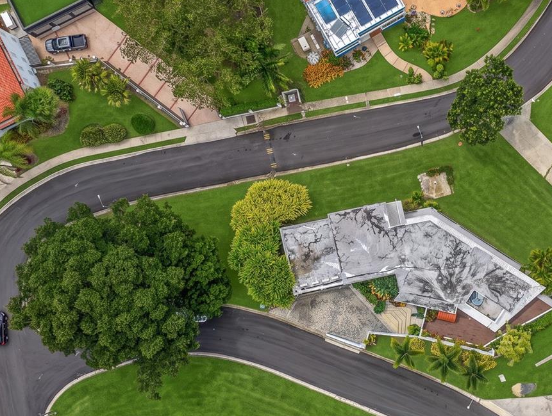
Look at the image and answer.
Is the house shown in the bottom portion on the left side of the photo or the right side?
right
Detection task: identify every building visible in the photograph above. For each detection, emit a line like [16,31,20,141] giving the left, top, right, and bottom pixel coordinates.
[0,18,50,143]
[281,200,547,334]
[9,0,97,36]
[305,0,406,57]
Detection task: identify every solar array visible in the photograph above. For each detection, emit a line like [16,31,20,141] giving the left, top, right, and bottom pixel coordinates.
[332,0,352,16]
[382,0,398,10]
[349,0,373,26]
[366,0,386,18]
[331,18,349,38]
